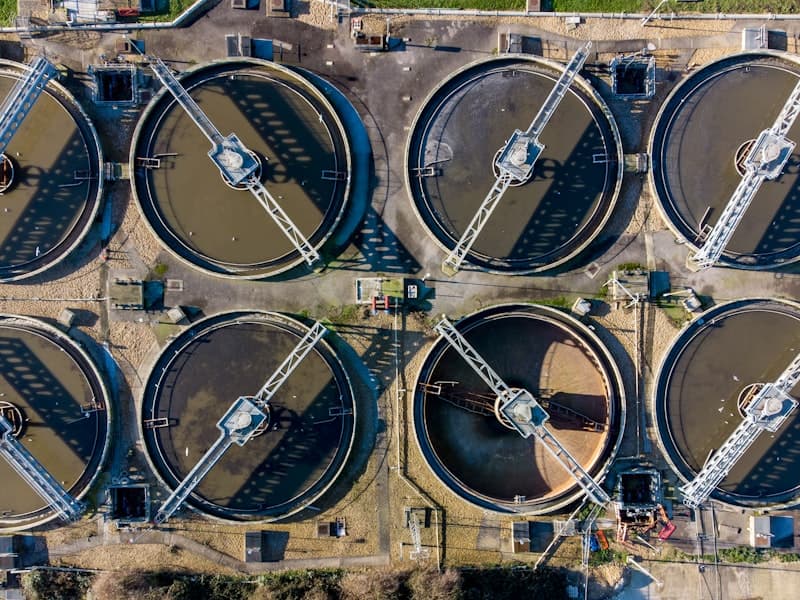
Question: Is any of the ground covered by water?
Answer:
Yes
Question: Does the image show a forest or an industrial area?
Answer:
industrial area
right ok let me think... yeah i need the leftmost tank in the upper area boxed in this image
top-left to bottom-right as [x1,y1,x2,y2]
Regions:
[0,60,105,279]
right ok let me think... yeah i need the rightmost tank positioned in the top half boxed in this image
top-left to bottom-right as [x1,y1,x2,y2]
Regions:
[645,48,800,271]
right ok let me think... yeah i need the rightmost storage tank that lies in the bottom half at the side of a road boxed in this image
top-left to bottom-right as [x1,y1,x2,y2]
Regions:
[651,297,800,510]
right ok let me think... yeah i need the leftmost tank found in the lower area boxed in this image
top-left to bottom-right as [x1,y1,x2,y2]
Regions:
[0,314,113,531]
